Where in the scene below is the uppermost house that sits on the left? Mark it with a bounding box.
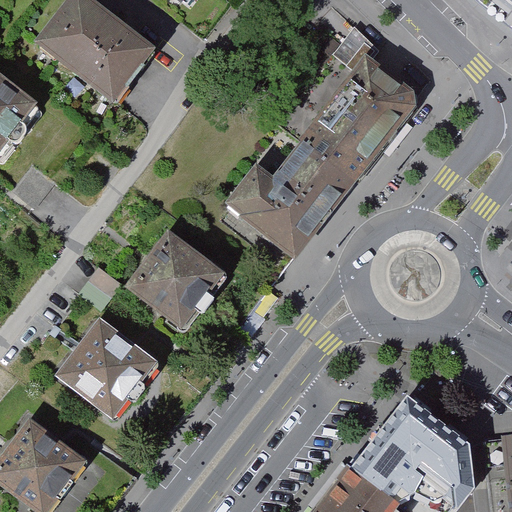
[36,0,155,107]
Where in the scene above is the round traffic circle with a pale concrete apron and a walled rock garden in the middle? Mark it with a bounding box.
[349,210,481,342]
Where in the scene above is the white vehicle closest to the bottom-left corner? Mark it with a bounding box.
[0,344,20,366]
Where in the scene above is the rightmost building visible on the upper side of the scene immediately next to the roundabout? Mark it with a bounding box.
[224,56,418,256]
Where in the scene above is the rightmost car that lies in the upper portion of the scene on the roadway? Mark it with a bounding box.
[491,82,508,103]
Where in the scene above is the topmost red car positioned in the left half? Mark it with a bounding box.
[154,51,172,68]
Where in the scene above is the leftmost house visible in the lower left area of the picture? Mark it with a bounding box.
[0,419,87,512]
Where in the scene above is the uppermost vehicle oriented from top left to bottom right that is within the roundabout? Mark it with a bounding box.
[437,232,457,250]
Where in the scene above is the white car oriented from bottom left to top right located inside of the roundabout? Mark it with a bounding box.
[354,250,375,268]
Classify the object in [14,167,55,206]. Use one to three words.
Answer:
building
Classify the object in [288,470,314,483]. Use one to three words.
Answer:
vehicle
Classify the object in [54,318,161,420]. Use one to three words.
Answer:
house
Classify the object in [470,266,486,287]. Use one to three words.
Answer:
car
